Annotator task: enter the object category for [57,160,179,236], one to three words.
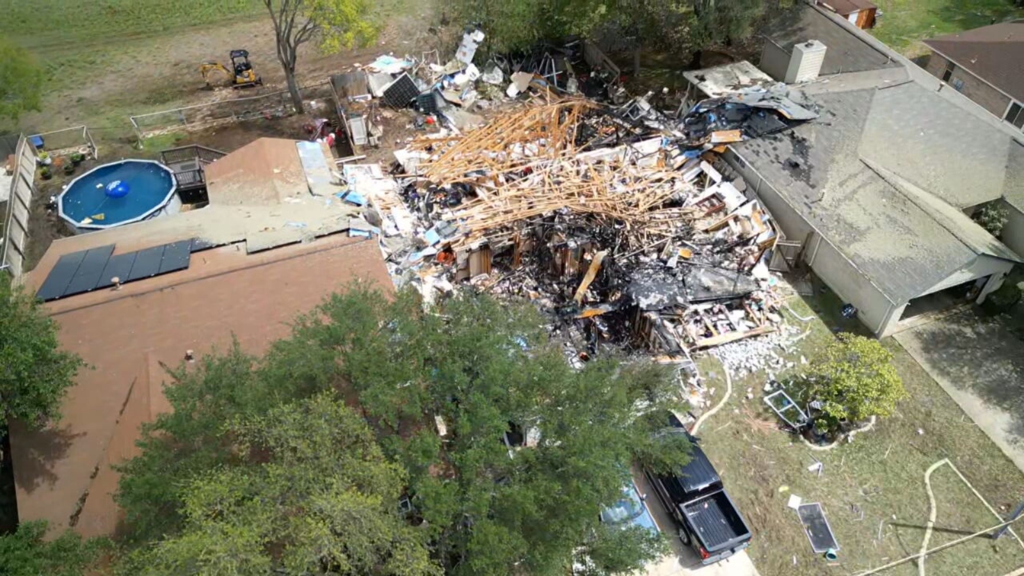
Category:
swimming pool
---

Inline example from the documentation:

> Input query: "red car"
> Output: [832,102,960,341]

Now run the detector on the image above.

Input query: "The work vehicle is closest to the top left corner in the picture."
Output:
[200,49,267,92]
